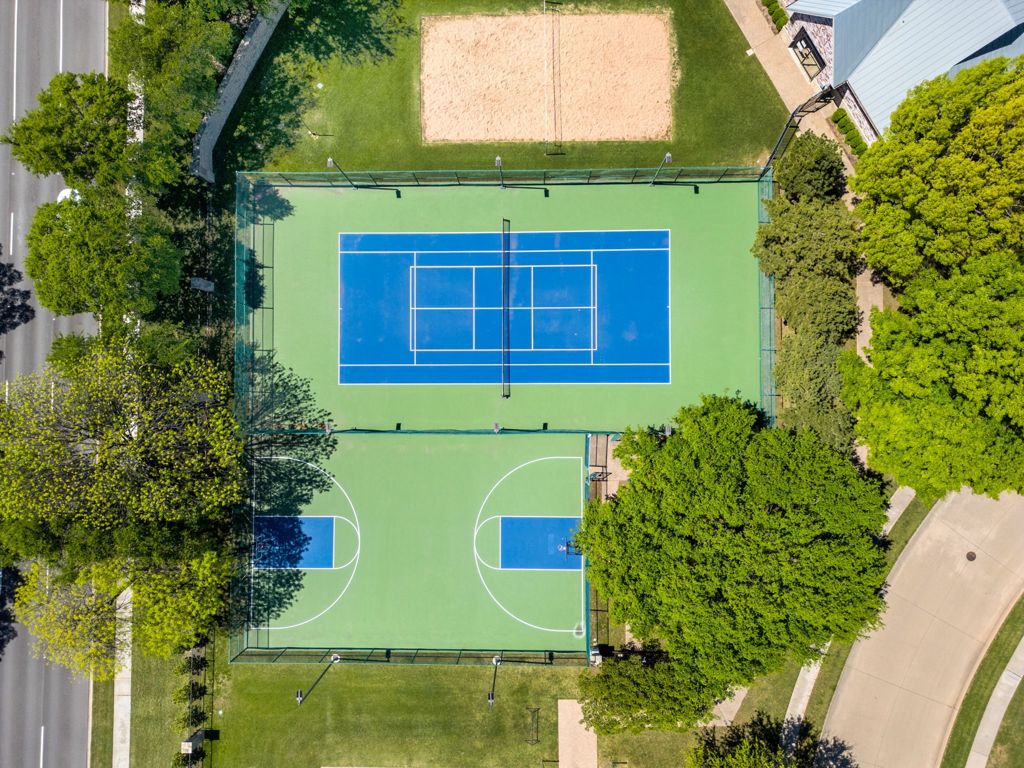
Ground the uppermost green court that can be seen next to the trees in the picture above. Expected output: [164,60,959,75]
[249,179,763,431]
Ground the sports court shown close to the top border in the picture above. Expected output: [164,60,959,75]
[421,13,672,143]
